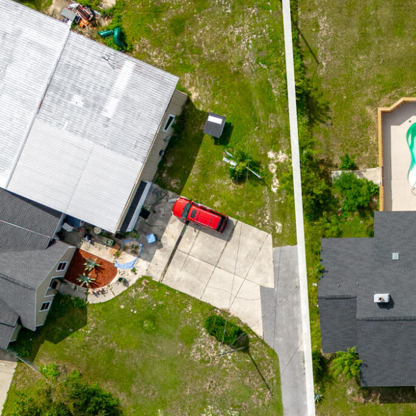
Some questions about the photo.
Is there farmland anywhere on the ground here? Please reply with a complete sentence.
No, the scene doesn't show any farmland.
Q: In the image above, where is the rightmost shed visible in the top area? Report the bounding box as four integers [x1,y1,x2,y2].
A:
[203,113,227,138]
